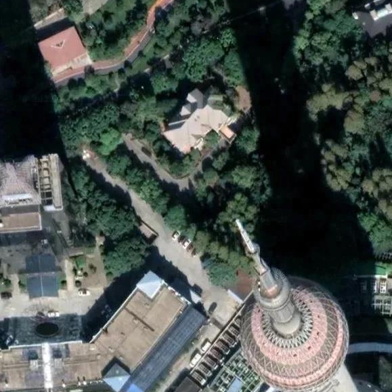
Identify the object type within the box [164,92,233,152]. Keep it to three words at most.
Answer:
house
